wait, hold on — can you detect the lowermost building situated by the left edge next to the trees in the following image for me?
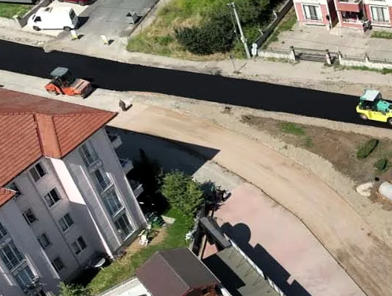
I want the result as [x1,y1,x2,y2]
[0,83,153,296]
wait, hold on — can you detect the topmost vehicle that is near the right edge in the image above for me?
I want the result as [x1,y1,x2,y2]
[353,89,392,127]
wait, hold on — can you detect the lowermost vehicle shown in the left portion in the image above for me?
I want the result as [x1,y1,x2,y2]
[36,61,94,99]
